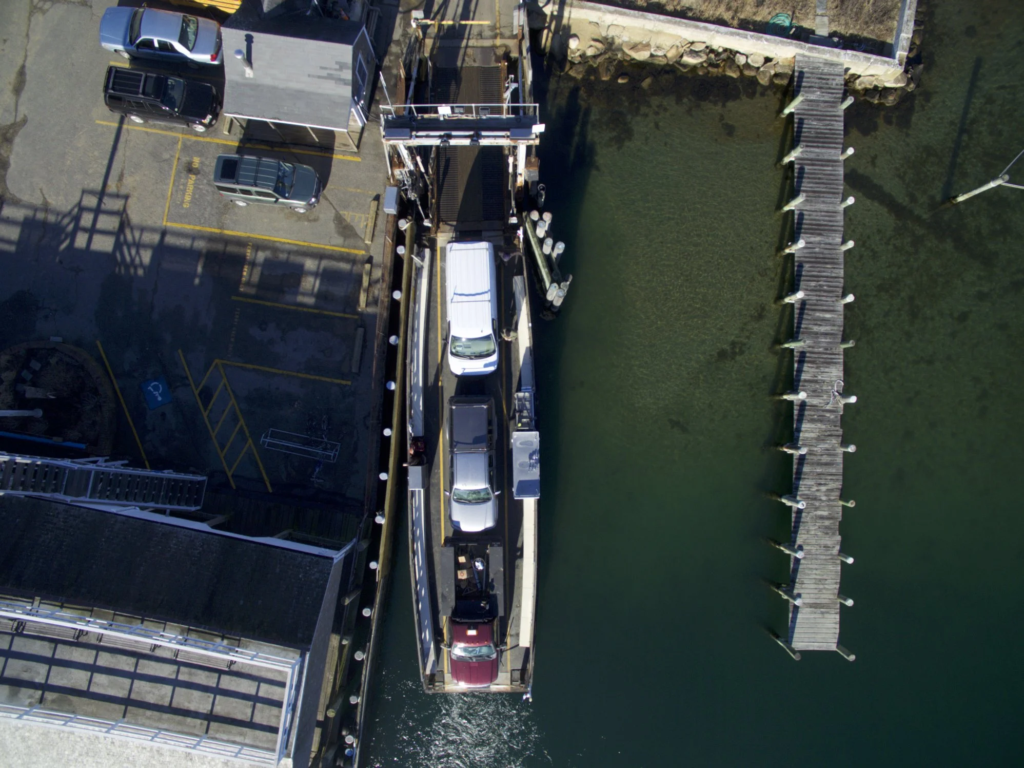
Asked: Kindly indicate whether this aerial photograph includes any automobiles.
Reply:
Yes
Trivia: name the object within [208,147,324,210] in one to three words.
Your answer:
car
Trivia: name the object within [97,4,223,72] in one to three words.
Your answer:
car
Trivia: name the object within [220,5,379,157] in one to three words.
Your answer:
shed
